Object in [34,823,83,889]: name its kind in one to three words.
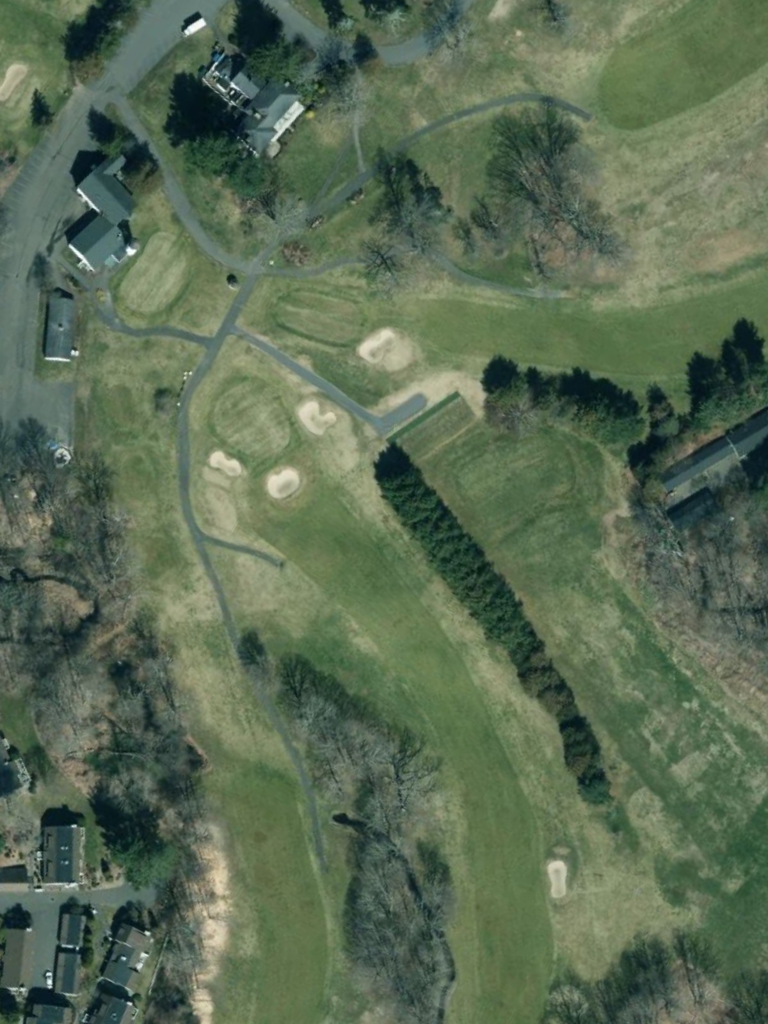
house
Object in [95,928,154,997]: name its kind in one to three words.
house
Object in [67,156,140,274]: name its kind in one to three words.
building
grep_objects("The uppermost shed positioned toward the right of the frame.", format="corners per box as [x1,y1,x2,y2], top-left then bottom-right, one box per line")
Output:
[662,405,768,494]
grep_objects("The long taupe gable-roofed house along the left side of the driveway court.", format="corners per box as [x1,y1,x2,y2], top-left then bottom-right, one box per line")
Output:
[1,928,34,1003]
